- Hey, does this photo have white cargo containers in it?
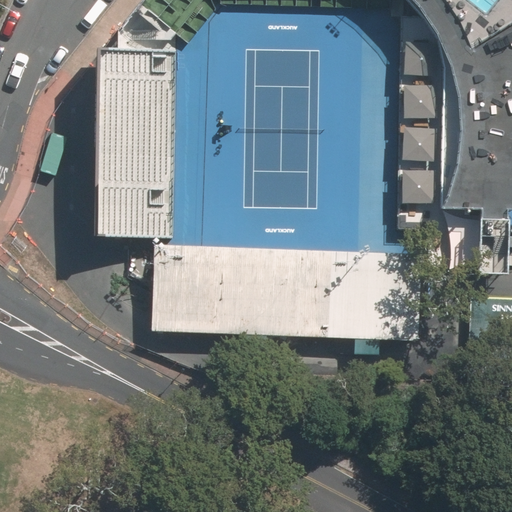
No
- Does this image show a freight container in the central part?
No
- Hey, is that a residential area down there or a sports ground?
sports ground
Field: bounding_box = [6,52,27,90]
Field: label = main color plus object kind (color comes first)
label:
white truck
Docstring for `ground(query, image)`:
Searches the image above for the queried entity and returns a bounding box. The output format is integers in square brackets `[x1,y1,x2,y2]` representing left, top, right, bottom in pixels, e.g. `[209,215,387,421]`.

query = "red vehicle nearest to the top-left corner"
[1,10,20,38]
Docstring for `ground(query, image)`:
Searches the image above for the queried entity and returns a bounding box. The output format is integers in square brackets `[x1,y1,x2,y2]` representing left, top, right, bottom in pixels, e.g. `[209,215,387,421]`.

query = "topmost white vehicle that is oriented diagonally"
[81,0,108,27]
